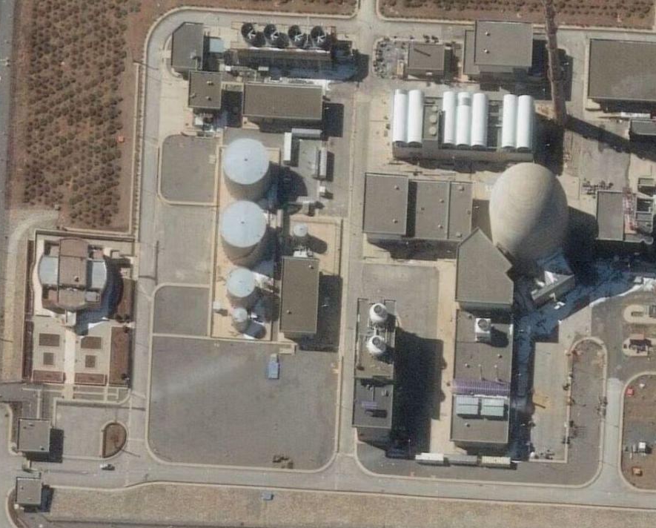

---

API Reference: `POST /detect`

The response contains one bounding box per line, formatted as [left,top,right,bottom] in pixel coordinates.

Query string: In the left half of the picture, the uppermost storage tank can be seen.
[223,137,274,202]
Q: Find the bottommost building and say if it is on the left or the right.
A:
left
